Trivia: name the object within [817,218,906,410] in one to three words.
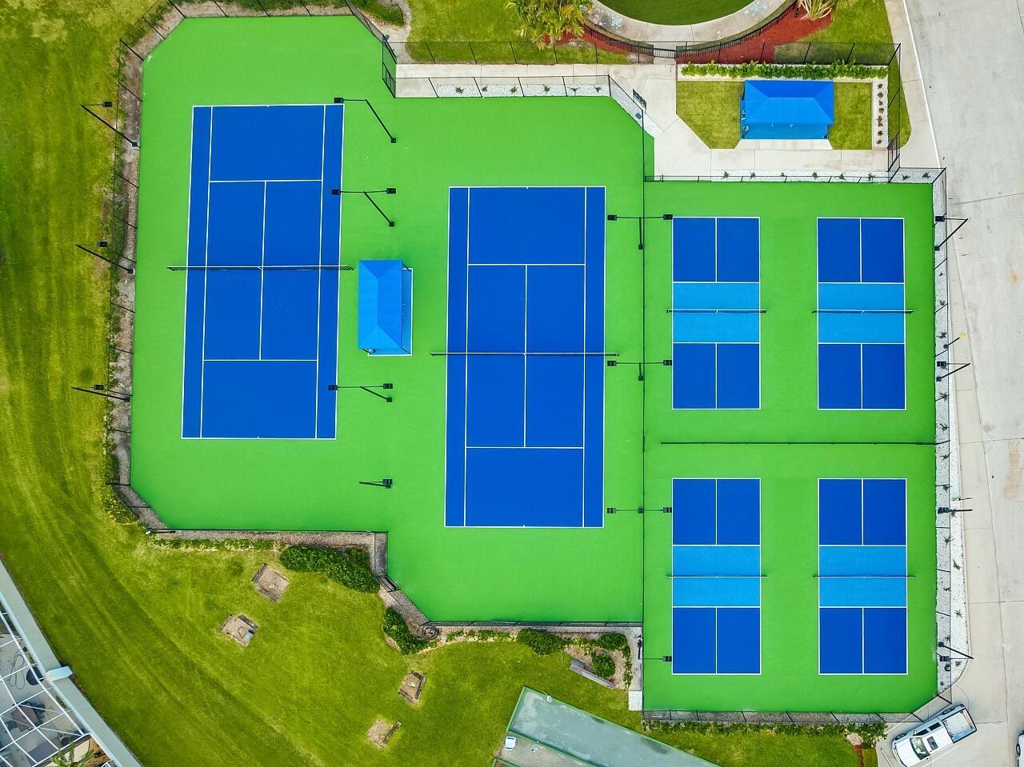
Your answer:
sports court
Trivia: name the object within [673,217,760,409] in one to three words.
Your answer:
sports court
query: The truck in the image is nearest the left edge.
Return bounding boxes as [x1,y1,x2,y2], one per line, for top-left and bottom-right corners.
[889,704,979,767]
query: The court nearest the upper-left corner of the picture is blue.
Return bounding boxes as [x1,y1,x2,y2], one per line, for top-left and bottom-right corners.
[182,104,343,439]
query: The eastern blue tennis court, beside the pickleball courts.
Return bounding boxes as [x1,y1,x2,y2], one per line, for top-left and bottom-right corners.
[445,187,606,528]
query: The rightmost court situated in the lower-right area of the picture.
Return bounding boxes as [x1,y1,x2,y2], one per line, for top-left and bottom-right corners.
[819,479,908,675]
